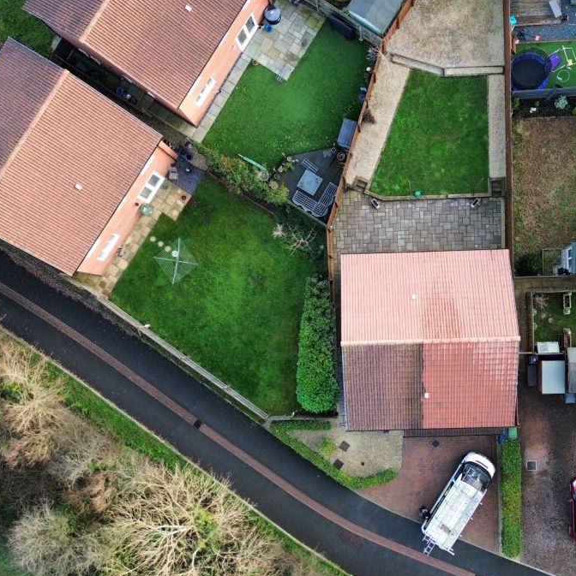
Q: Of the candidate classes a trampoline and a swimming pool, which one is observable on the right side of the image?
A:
trampoline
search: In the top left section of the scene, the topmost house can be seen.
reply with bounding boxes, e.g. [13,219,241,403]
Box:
[22,0,274,126]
